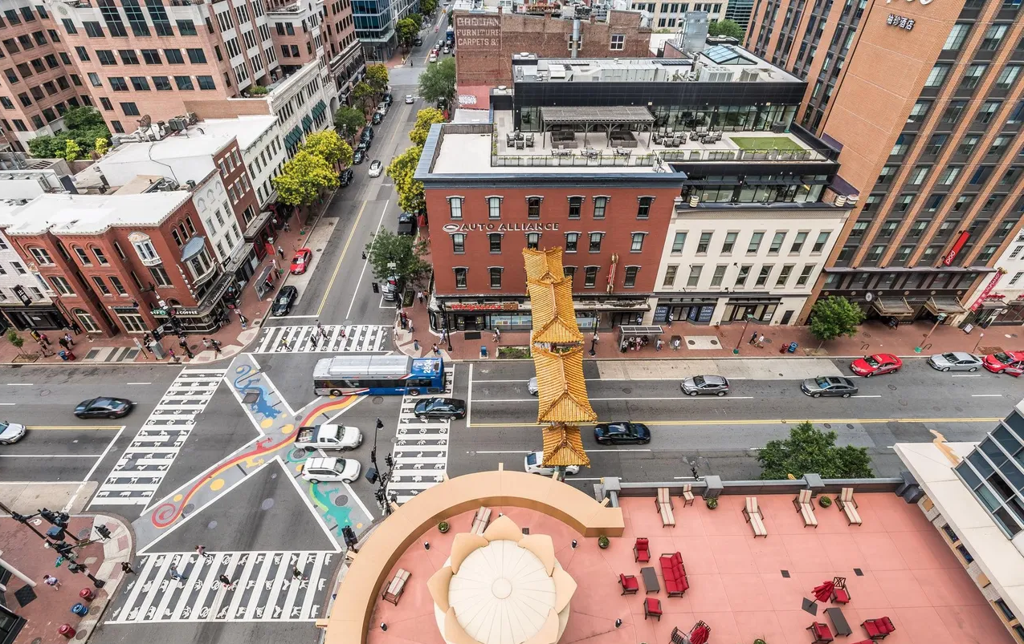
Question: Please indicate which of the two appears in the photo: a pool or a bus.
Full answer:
This aerial view contains a bus.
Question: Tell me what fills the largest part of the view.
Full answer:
For the most part, this view shows buildings.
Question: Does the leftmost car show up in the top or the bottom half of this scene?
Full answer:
It is in the bottom half that the leftmost car appears.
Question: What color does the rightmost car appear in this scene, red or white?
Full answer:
The rightmost car looks red in the image.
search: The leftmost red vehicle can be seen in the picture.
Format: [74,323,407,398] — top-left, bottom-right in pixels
[289,248,313,272]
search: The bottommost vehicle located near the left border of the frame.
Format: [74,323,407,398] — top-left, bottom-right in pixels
[0,419,31,446]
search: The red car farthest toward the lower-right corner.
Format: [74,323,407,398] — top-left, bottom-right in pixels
[982,350,1024,371]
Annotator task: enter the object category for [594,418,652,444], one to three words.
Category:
car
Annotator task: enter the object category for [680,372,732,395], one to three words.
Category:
car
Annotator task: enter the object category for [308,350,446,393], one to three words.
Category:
bus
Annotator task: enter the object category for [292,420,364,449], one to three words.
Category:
truck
